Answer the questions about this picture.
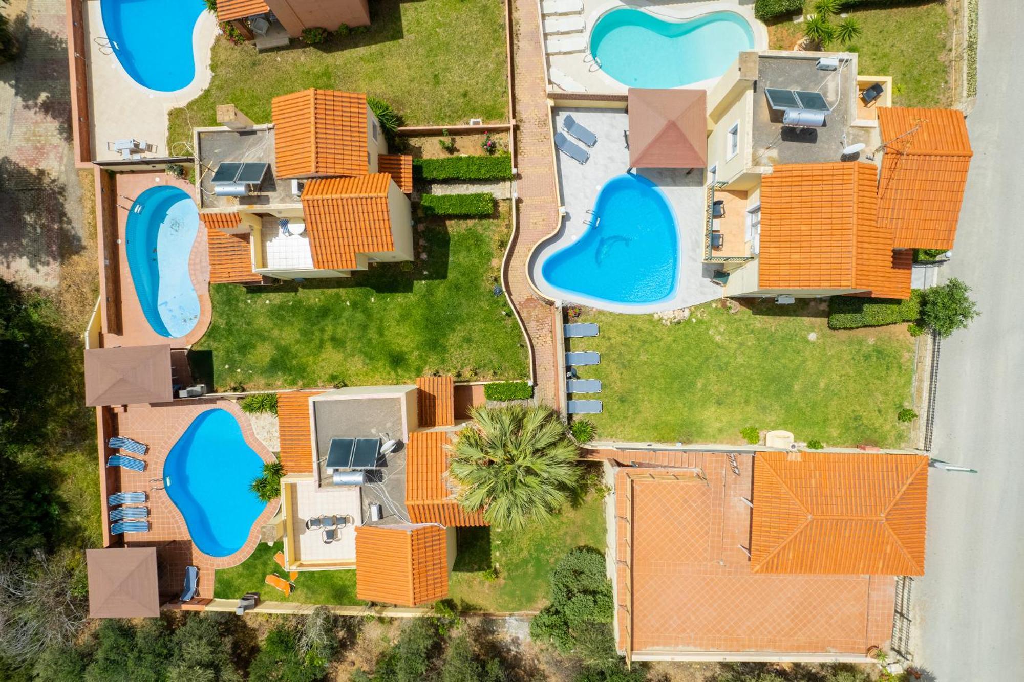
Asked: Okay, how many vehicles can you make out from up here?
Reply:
none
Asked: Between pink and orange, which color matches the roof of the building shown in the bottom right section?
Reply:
orange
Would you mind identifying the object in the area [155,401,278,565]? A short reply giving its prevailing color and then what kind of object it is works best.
blue swimming pool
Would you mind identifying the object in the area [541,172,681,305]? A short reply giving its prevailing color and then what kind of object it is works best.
blue swimming pool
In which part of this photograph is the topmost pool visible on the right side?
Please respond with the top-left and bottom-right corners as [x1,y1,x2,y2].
[588,5,757,89]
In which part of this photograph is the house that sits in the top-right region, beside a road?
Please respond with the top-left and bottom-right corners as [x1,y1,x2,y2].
[702,49,978,300]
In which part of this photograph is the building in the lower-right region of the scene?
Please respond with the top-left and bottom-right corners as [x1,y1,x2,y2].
[739,451,925,577]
